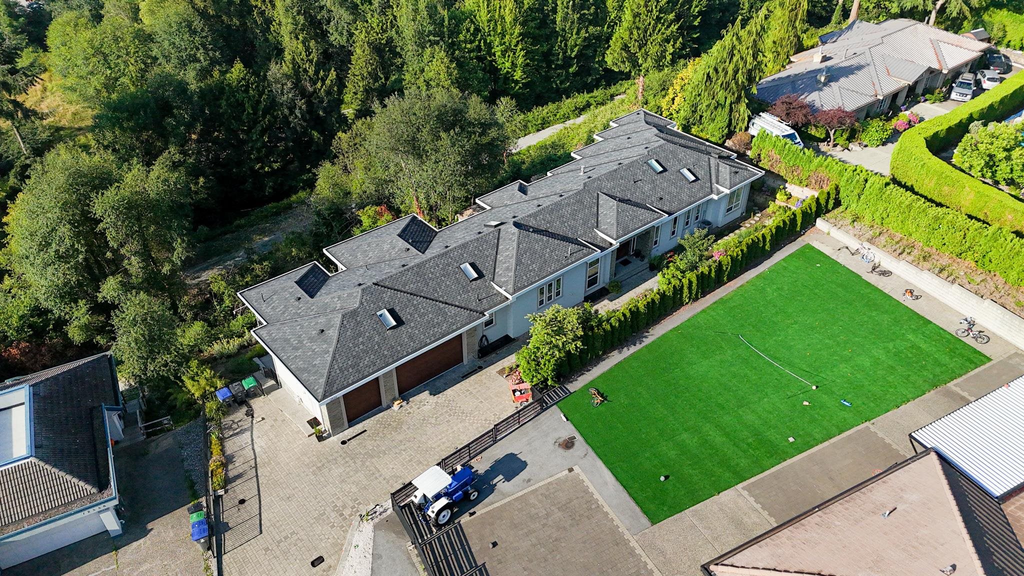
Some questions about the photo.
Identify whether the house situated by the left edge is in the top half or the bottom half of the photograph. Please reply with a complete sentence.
It is in the bottom half that the house situated by the left edge appears.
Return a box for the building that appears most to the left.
[0,359,137,576]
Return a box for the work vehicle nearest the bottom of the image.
[416,472,481,528]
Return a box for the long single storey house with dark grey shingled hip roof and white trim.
[235,107,770,437]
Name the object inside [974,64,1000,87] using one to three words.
car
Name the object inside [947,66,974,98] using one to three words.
car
